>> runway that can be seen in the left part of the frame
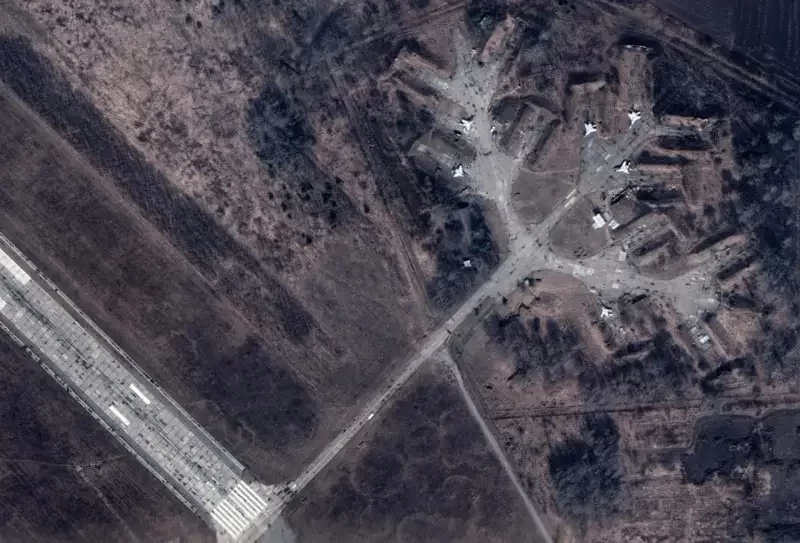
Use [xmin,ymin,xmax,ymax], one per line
[0,248,267,538]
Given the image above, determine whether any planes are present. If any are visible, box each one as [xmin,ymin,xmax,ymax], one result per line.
[585,120,597,136]
[600,307,616,321]
[616,161,634,172]
[630,109,641,126]
[461,116,472,132]
[452,164,464,180]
